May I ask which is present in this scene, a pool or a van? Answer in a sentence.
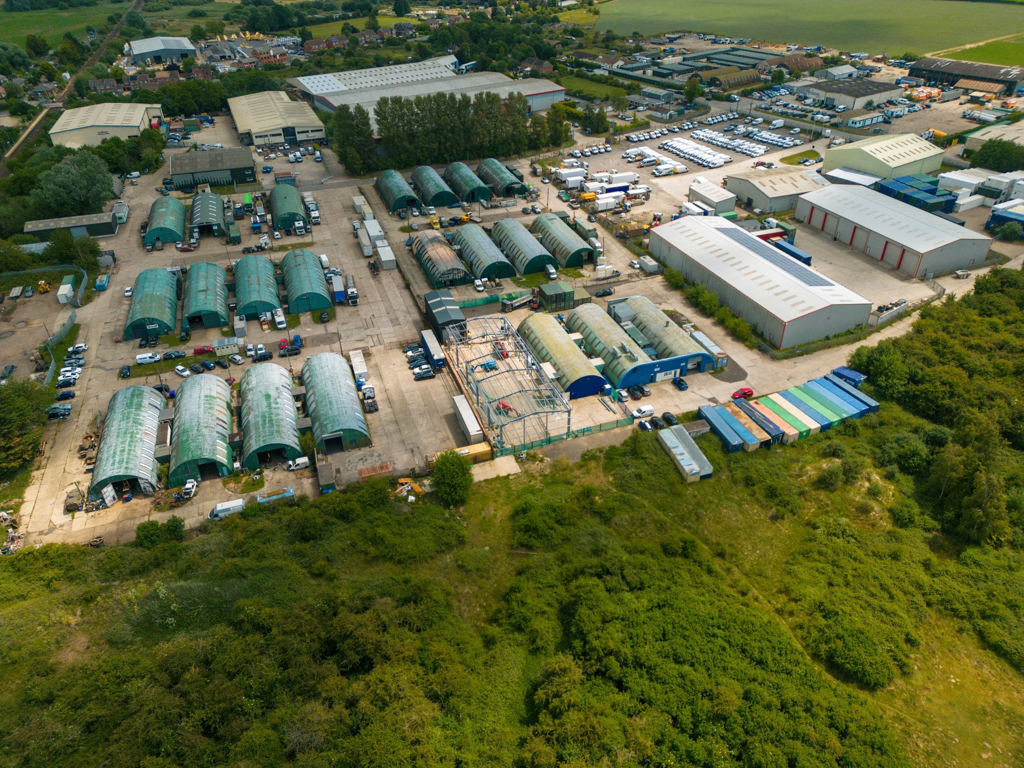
The image shows a van.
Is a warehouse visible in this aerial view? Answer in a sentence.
Yes, the image includes a warehouse.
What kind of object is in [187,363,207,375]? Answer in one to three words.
vehicle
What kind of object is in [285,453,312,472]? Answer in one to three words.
vehicle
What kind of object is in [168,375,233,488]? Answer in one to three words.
shed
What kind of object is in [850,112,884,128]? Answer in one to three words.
building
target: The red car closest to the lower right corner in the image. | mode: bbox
[732,387,754,399]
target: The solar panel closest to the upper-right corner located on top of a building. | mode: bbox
[713,225,834,284]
